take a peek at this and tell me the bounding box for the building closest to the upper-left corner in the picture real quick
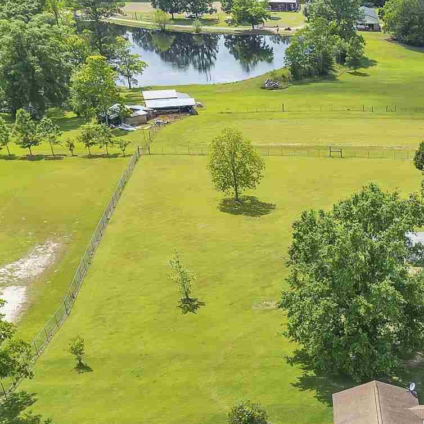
[99,103,152,125]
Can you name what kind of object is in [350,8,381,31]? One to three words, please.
house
